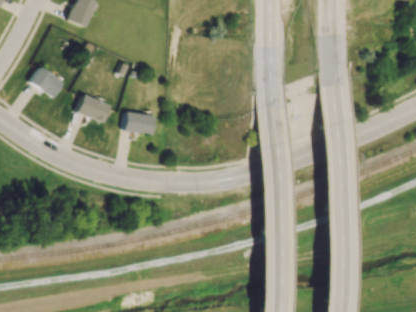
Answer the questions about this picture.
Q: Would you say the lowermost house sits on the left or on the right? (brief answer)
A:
left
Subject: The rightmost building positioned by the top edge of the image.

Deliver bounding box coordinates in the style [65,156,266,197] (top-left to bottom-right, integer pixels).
[68,0,98,28]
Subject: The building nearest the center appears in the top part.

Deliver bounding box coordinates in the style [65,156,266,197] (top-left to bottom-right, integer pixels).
[123,111,157,135]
